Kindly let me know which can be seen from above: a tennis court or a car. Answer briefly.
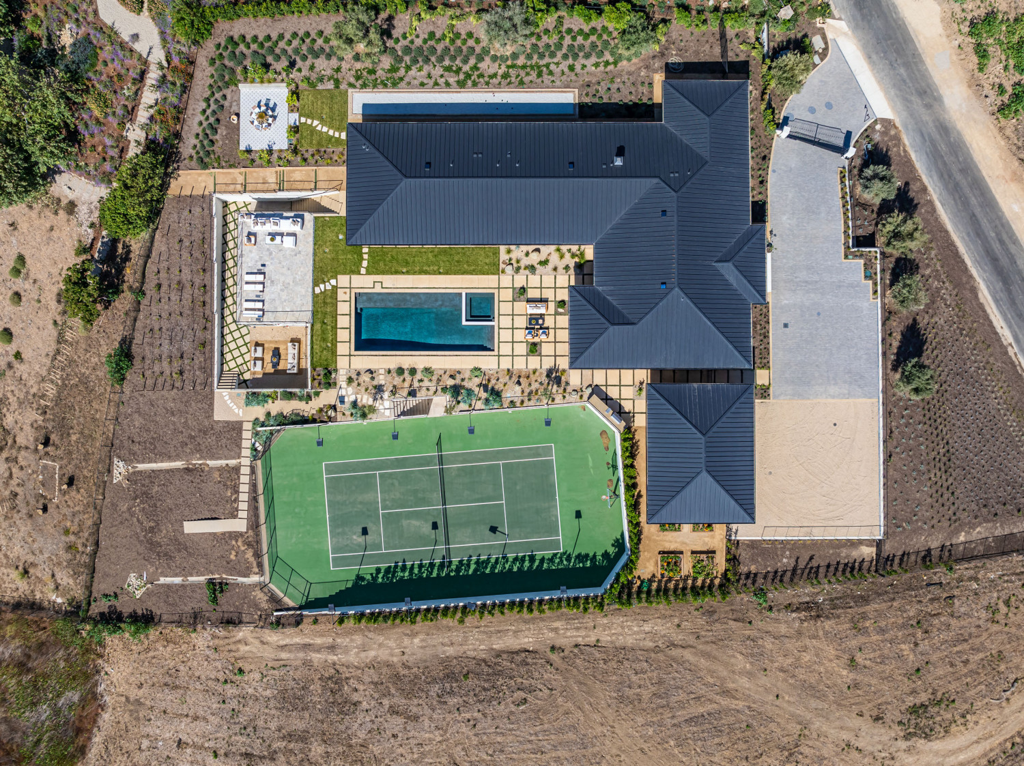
tennis court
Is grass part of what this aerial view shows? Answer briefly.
Yes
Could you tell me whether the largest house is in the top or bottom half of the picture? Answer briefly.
top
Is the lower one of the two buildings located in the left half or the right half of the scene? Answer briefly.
right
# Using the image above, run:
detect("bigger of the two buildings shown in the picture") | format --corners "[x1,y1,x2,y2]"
[346,79,766,370]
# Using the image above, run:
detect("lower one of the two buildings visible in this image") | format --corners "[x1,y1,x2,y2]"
[646,382,756,525]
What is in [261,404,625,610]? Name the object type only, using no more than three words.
tennis court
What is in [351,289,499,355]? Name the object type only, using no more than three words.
swimming pool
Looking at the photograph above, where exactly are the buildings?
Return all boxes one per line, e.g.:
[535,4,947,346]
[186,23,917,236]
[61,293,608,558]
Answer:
[346,79,766,370]
[646,382,756,525]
